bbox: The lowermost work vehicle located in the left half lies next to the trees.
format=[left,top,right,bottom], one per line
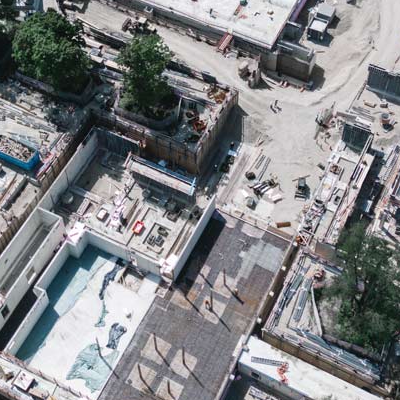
[124,9,161,38]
